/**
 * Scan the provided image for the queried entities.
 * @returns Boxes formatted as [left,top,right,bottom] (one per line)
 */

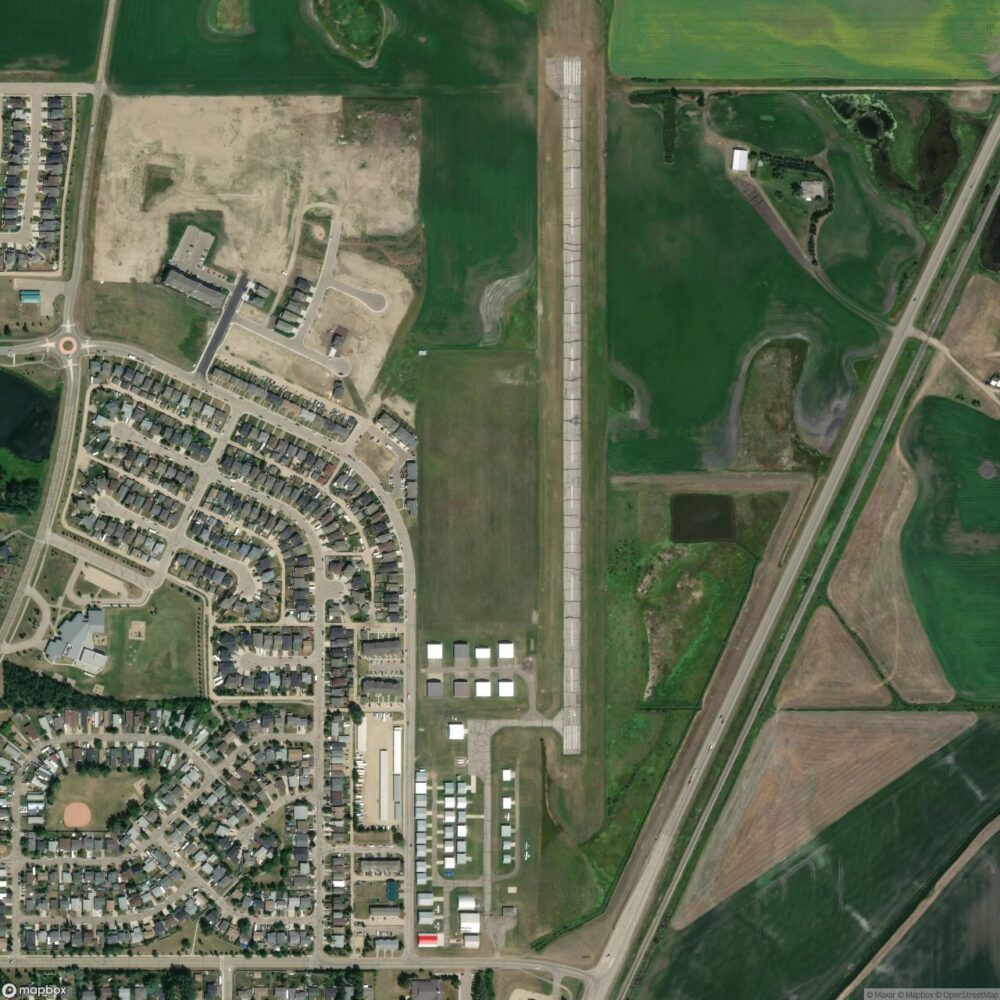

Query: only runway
[546,57,580,754]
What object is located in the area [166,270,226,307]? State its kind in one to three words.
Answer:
building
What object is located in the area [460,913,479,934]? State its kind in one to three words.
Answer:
hangar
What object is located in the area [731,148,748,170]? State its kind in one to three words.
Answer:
barn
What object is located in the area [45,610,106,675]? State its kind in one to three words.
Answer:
building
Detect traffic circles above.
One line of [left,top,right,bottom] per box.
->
[41,320,94,390]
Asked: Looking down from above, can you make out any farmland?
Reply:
Yes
